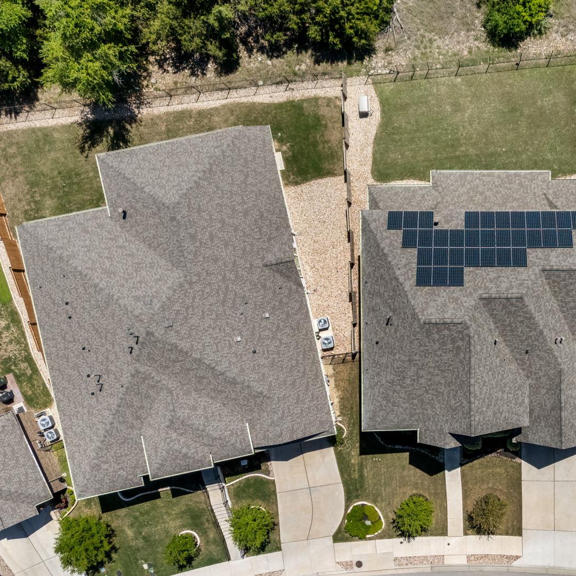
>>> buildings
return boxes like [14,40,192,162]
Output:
[359,169,576,448]
[14,123,339,501]
[0,391,70,529]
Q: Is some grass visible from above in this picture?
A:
Yes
